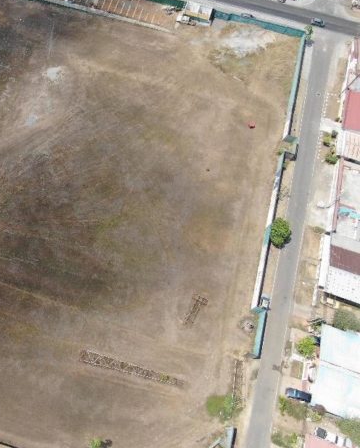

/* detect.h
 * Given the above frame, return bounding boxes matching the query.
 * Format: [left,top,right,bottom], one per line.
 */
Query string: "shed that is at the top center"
[183,2,213,26]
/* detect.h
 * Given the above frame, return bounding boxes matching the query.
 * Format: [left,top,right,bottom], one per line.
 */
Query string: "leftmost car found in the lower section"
[259,293,273,311]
